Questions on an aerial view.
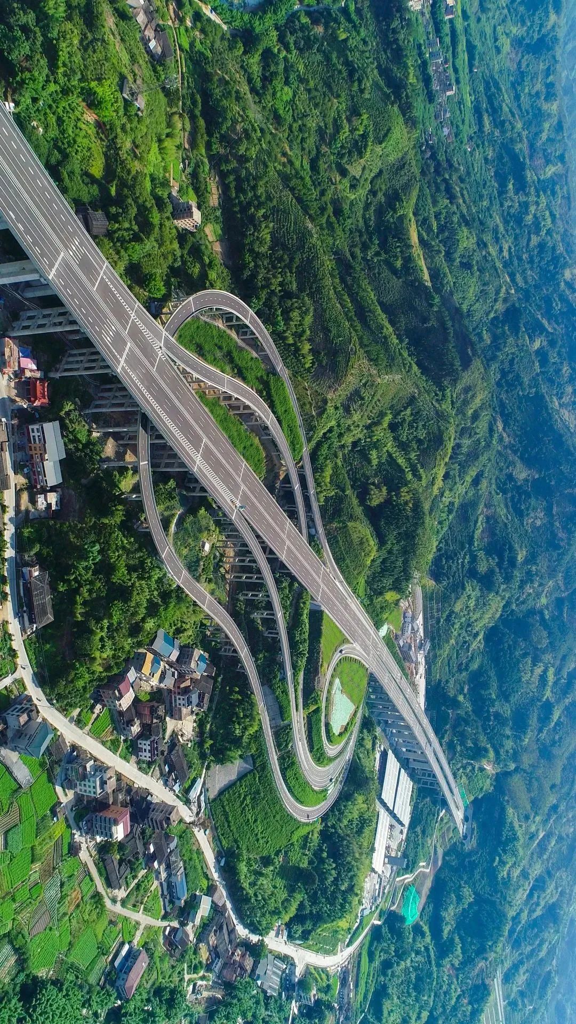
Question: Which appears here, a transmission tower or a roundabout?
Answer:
transmission tower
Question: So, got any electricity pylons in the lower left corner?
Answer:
No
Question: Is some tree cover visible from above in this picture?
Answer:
Yes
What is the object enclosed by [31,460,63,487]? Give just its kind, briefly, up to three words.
house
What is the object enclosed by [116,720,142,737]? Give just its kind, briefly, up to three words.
house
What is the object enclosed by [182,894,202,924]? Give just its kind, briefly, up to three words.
shed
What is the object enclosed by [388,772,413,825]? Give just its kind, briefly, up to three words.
building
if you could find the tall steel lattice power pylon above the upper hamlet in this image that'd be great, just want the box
[130,68,182,98]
